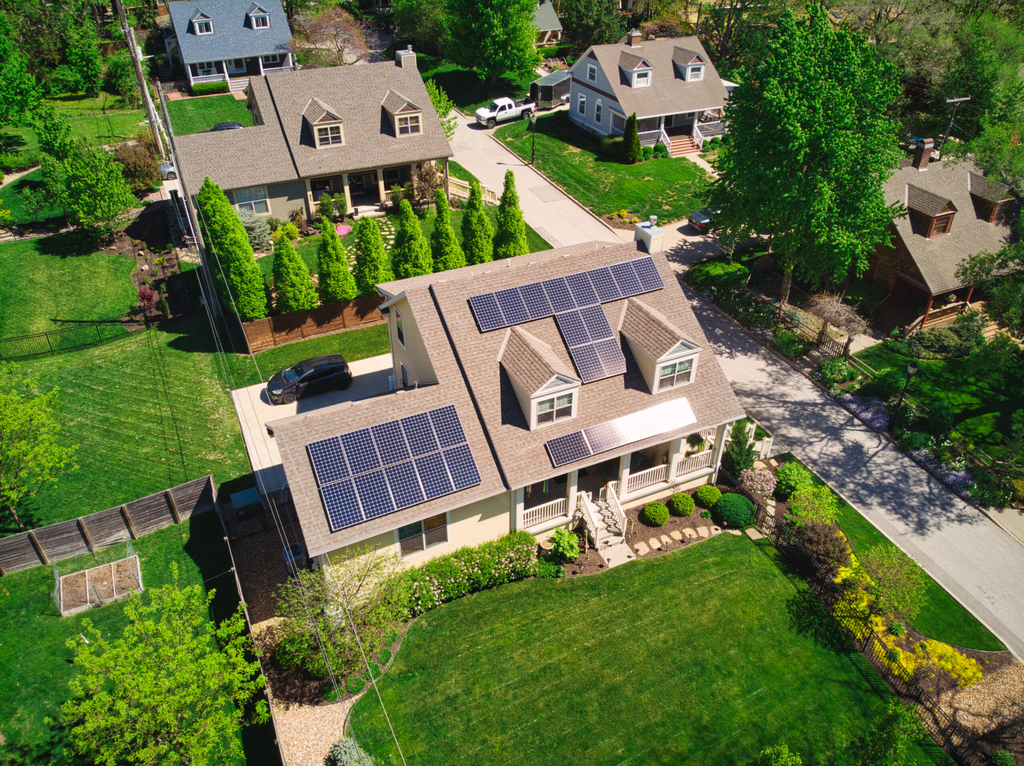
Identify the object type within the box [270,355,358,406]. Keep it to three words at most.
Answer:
car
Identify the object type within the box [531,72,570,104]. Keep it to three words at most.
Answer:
trailer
